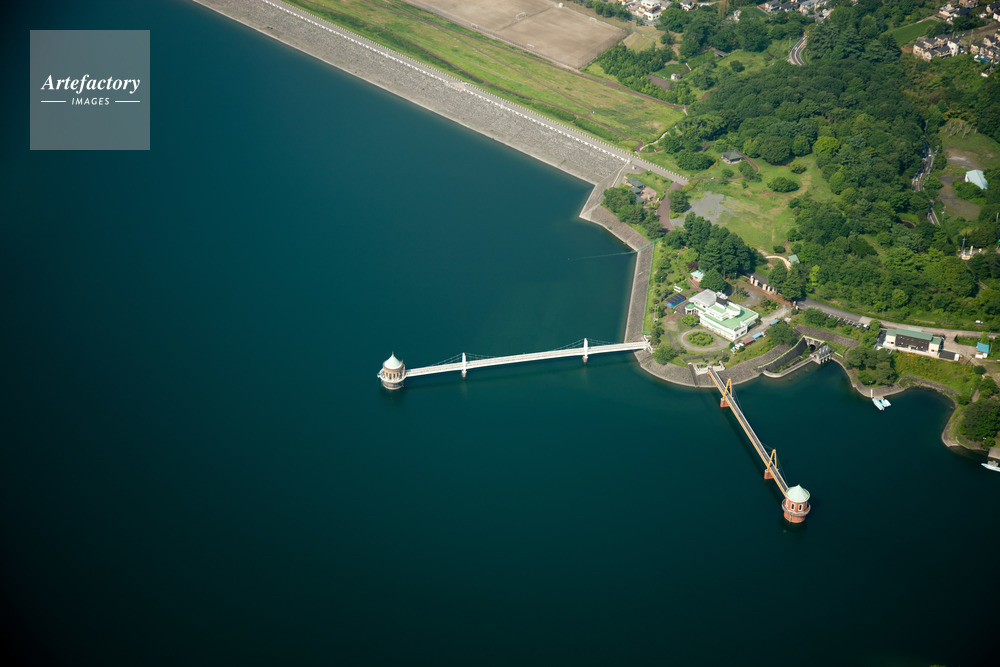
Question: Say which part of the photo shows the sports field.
top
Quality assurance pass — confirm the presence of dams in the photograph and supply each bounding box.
[193,0,688,188]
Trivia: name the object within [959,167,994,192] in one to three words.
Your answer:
building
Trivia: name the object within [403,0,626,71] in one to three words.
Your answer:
sports field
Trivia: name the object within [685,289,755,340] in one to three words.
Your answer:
building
